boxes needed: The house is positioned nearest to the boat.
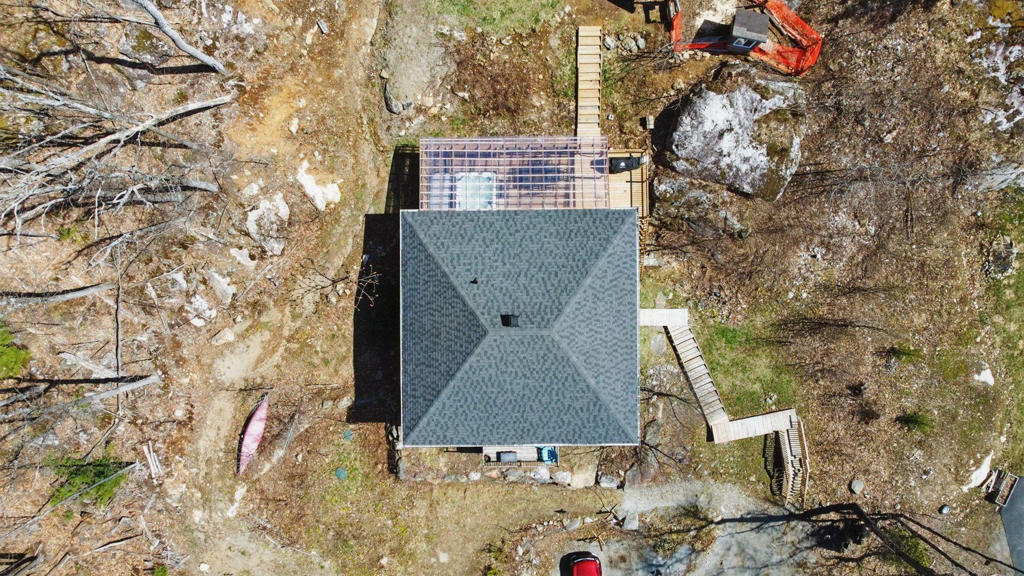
[401,208,639,446]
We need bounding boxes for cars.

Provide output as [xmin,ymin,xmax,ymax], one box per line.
[569,551,601,576]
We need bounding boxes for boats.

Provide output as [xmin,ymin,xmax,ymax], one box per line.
[235,395,267,476]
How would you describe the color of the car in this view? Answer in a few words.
red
